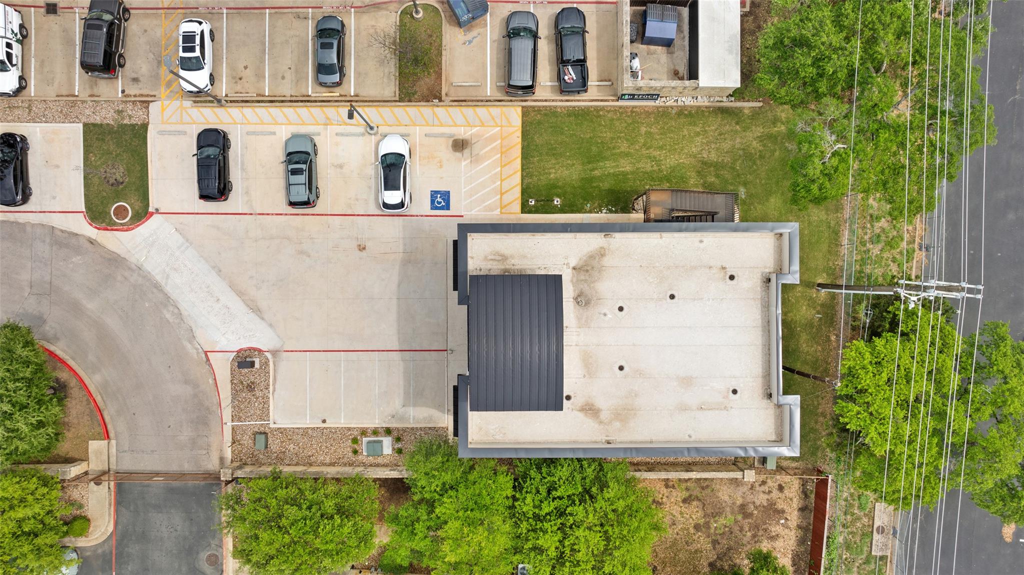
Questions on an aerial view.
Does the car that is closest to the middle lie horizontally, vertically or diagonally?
vertically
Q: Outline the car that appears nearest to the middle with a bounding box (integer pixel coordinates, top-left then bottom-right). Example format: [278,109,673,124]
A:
[373,133,413,213]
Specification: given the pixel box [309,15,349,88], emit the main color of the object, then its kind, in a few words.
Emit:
gray car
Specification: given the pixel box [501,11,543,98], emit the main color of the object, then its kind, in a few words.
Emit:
gray car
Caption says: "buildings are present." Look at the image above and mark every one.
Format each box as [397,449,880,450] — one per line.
[453,219,800,457]
[689,0,741,97]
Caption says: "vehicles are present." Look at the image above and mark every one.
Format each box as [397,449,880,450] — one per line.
[78,0,131,78]
[552,5,593,97]
[279,133,321,210]
[373,133,413,213]
[190,127,234,203]
[501,11,543,98]
[0,131,30,208]
[309,15,349,88]
[174,18,217,96]
[0,0,31,98]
